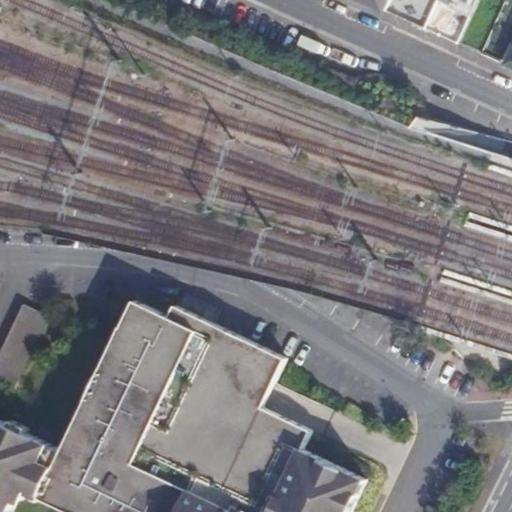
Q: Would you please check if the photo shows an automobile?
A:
Yes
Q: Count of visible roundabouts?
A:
0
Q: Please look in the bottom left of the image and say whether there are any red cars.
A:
No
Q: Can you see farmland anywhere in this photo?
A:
No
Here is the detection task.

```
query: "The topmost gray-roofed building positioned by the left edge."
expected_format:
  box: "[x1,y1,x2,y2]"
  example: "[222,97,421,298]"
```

[0,305,48,385]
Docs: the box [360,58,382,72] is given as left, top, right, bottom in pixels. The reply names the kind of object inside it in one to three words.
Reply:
vehicle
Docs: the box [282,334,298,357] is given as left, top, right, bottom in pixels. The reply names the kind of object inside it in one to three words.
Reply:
car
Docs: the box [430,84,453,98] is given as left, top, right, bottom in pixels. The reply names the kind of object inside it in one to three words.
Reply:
car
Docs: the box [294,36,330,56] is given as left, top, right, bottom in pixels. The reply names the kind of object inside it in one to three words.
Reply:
truck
